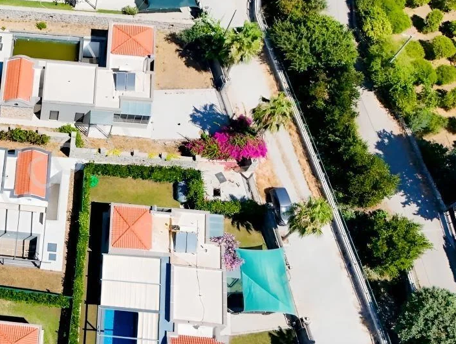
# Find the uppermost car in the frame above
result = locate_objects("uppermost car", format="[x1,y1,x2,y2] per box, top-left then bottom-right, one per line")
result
[262,187,293,231]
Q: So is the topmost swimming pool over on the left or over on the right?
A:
left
